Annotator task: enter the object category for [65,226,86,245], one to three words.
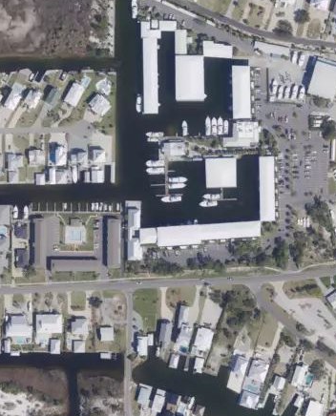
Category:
swimming pool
